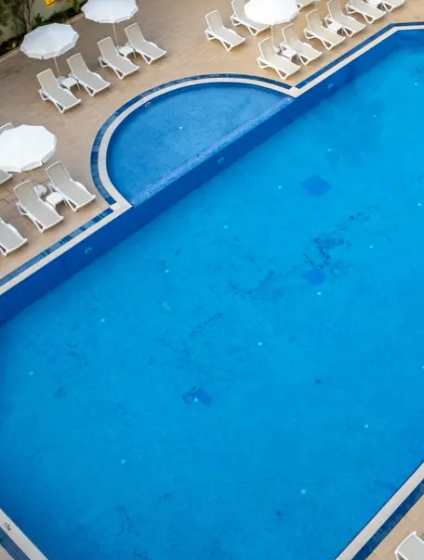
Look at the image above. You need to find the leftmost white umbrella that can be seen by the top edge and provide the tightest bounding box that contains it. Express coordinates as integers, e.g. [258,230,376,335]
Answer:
[19,20,81,83]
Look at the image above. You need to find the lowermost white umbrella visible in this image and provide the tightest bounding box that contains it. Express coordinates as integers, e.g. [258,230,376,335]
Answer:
[0,124,62,195]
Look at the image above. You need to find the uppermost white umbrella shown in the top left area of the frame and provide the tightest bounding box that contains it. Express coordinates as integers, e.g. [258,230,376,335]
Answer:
[77,0,138,51]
